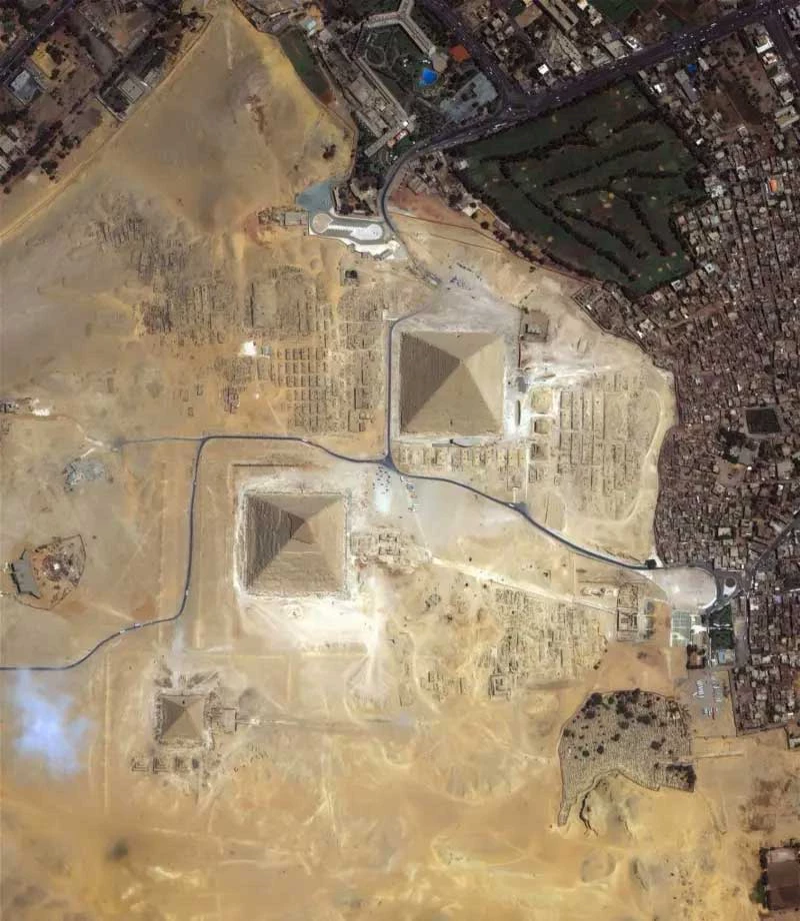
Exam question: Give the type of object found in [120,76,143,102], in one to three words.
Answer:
house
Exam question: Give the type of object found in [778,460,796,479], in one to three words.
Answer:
building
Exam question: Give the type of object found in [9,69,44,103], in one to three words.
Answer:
building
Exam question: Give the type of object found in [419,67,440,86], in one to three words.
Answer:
swimming pool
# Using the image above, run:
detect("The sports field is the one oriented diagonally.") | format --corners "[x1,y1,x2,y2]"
[280,26,332,103]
